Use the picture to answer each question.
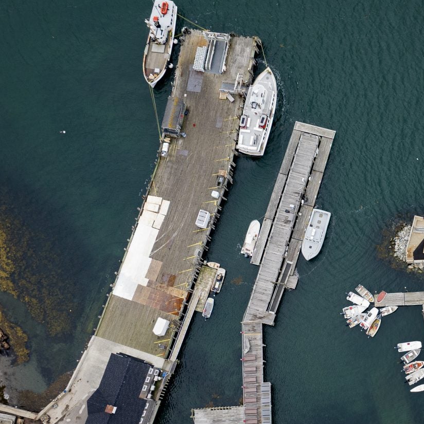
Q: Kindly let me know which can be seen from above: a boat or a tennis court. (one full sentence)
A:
Of the two, only a boat appears.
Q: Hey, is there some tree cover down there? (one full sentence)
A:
No, tree cover can't be seen anywhere here.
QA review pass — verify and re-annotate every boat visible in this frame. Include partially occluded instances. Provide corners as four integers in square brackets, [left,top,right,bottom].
[400,361,424,374]
[202,297,214,321]
[359,307,379,331]
[367,315,382,340]
[411,384,424,392]
[242,220,259,261]
[355,284,374,303]
[208,261,220,269]
[344,313,366,328]
[345,291,369,309]
[139,0,176,86]
[238,67,276,158]
[378,290,387,303]
[402,368,424,385]
[392,340,422,352]
[399,350,420,364]
[380,306,397,317]
[339,305,366,318]
[212,269,226,297]
[303,207,330,259]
